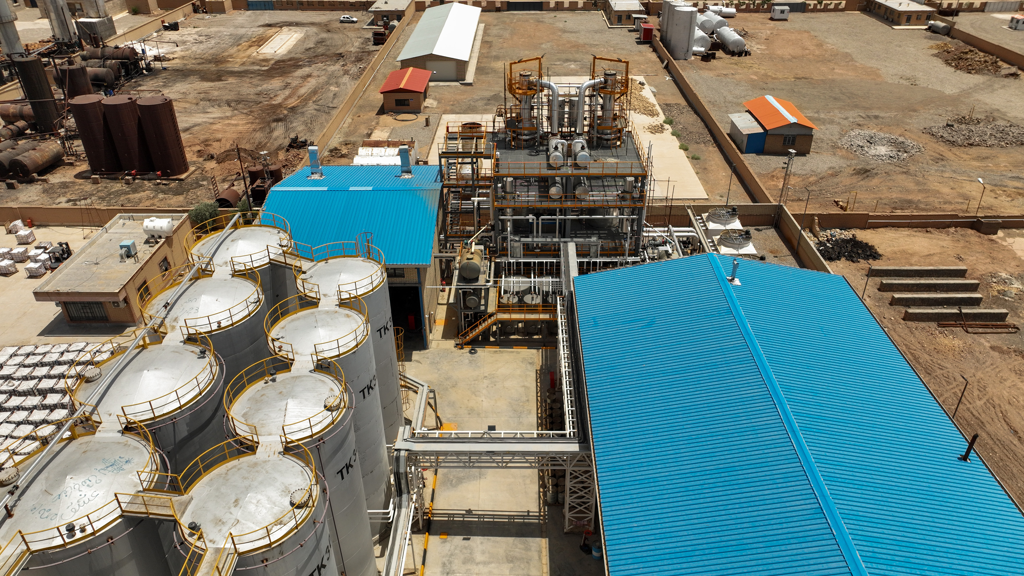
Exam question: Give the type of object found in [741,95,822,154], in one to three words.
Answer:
shed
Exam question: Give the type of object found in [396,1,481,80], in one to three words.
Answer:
shed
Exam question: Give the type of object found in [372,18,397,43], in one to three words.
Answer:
truck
